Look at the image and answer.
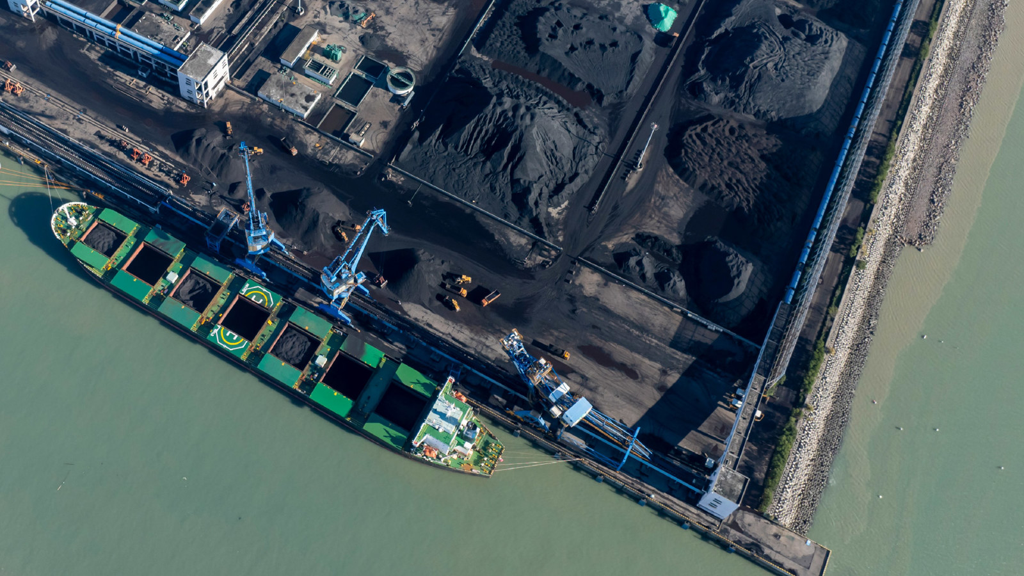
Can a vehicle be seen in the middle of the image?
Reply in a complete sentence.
Yes, a vehicle appears in the middle of the image.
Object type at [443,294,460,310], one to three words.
work vehicle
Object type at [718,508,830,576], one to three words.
pier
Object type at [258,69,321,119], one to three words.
building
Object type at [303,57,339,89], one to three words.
house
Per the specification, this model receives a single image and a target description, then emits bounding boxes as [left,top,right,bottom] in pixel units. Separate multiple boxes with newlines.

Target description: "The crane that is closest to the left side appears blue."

[230,151,291,281]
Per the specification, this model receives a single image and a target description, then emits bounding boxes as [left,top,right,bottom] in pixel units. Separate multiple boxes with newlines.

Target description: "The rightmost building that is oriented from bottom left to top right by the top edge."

[280,25,318,72]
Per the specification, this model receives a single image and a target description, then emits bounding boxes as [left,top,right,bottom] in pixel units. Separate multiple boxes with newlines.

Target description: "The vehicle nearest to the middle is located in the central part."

[481,288,500,305]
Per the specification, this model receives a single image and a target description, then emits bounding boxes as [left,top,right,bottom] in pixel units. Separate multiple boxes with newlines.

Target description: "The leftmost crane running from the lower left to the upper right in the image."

[314,227,398,327]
